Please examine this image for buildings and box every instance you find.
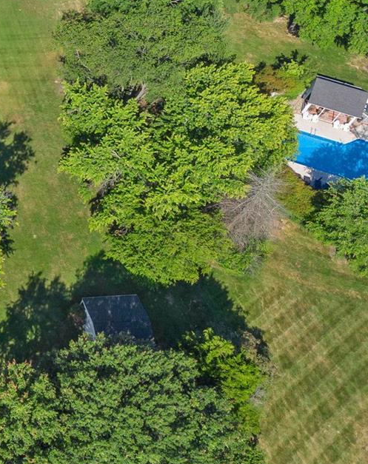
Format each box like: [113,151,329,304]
[296,72,368,145]
[73,295,155,347]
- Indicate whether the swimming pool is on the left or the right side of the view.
right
